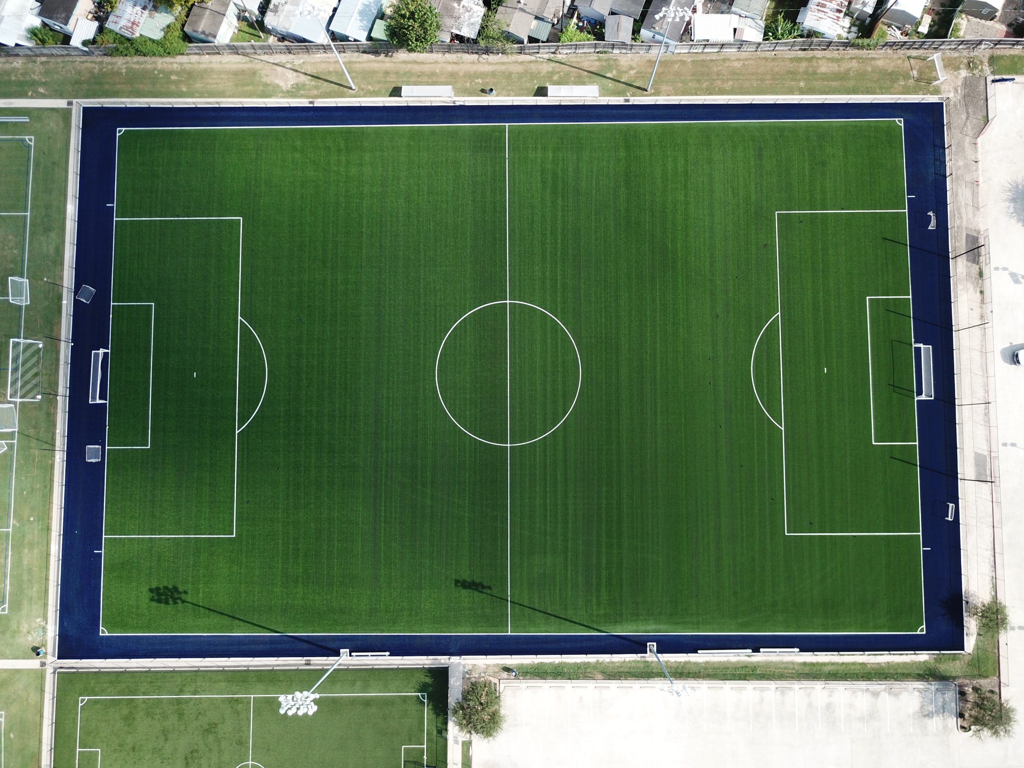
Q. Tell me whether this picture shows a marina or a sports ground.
sports ground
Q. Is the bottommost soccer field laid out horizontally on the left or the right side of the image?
left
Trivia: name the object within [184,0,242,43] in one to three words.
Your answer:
house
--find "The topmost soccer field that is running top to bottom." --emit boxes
[0,136,39,613]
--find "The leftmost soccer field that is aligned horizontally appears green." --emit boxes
[50,665,451,768]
